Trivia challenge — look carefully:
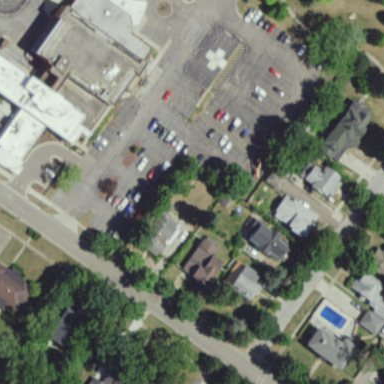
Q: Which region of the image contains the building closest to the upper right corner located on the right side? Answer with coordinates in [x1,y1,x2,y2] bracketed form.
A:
[323,98,376,166]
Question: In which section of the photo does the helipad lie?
top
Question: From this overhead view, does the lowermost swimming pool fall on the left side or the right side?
right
